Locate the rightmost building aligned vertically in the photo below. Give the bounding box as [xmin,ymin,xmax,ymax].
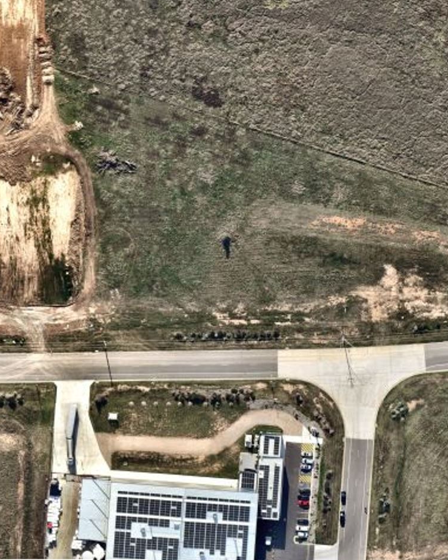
[256,434,285,521]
